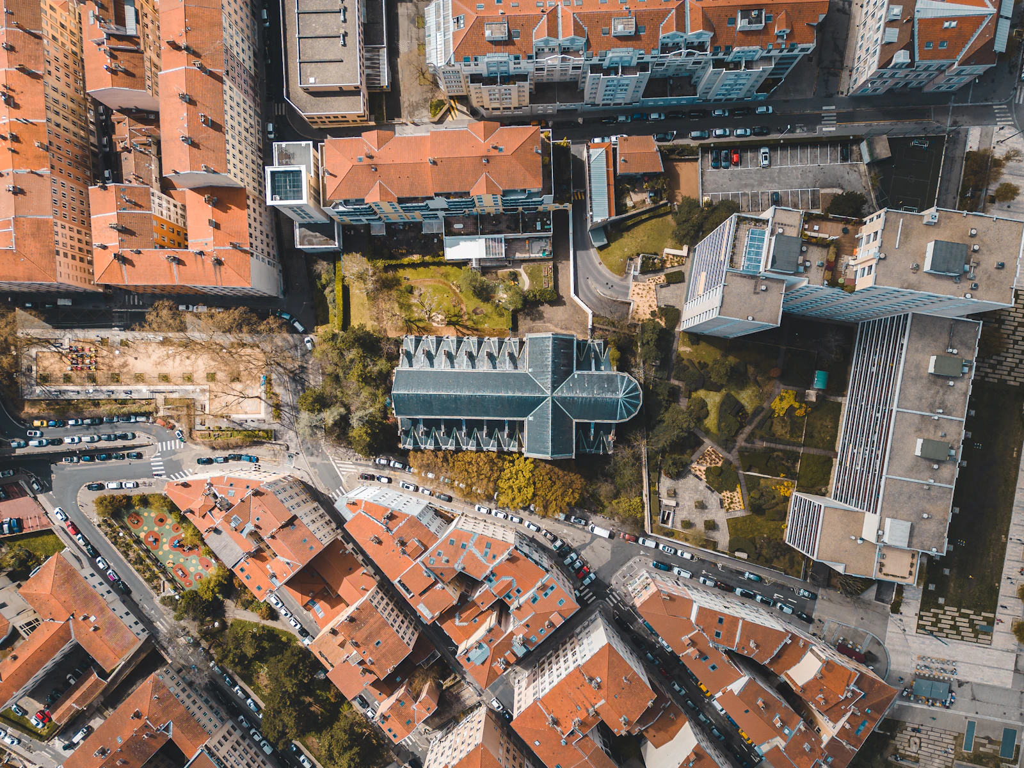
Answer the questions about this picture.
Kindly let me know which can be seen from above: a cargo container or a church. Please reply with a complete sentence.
The image shows a church.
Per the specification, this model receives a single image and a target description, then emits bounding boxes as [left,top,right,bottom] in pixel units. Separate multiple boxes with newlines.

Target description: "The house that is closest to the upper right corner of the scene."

[848,0,1016,95]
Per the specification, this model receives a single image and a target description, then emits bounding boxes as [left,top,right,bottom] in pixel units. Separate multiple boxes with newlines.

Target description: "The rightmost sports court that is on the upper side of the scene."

[867,136,946,214]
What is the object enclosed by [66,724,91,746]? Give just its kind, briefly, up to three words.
vehicle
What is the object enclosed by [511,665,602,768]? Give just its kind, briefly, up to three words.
house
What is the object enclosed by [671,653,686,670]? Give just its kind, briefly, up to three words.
car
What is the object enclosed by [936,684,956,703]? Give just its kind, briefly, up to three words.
umbrella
